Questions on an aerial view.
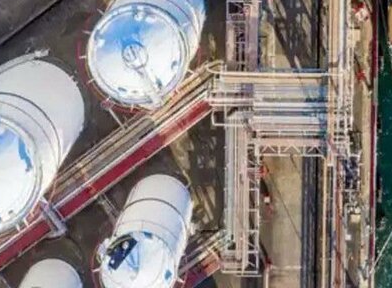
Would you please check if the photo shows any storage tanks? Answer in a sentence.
Yes, there's a storage tank here.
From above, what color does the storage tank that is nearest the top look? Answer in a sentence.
The storage tank that is nearest the top looks white in the image.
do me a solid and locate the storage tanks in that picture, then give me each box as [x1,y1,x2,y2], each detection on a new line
[93,172,196,288]
[19,258,86,288]
[0,55,85,239]
[78,0,207,114]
